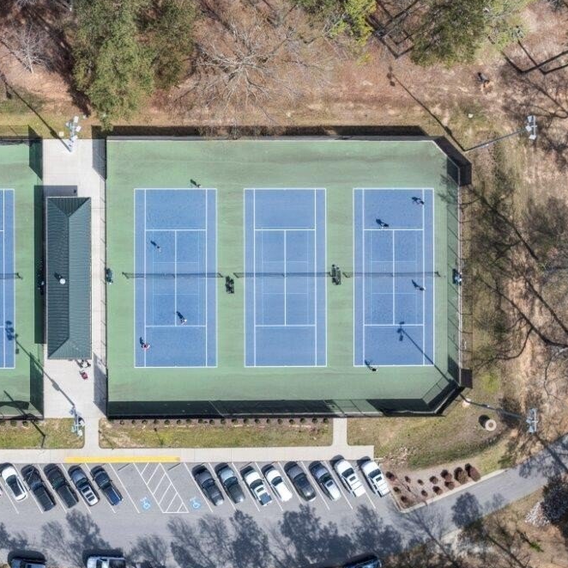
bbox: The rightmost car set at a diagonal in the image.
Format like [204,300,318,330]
[361,461,391,499]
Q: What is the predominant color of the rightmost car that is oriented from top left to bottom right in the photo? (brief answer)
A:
white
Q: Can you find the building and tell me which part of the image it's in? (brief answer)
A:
left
